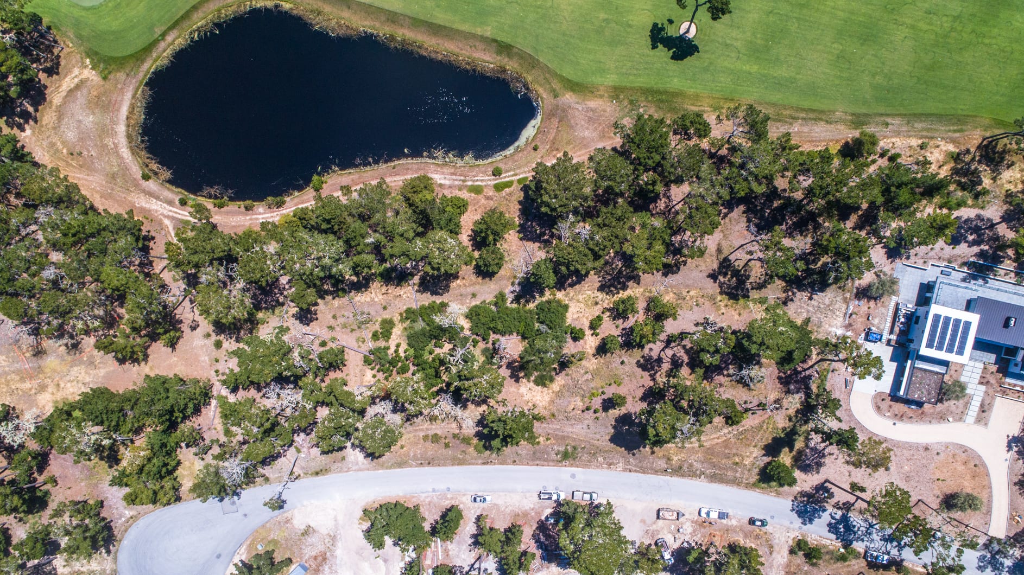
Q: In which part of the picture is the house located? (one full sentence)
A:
The house is in the right part of the image.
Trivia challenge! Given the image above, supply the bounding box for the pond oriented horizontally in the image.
[142,7,542,202]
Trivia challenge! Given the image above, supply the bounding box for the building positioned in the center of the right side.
[890,277,1024,410]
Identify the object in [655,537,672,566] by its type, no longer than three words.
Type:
vehicle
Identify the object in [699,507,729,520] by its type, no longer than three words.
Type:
vehicle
